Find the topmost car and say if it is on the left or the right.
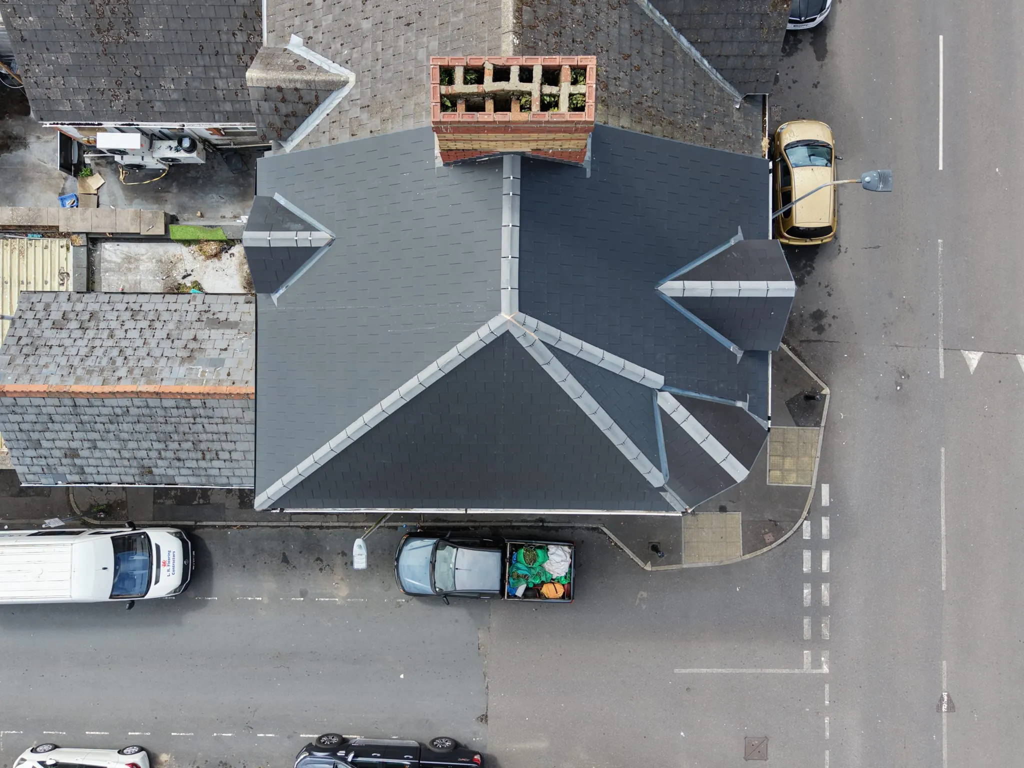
right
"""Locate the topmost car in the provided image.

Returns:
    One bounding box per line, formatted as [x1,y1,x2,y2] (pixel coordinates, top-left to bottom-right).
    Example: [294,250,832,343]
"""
[789,0,837,33]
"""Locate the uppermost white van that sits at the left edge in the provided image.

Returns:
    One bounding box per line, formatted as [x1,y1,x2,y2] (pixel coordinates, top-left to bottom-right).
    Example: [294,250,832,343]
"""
[0,524,200,610]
